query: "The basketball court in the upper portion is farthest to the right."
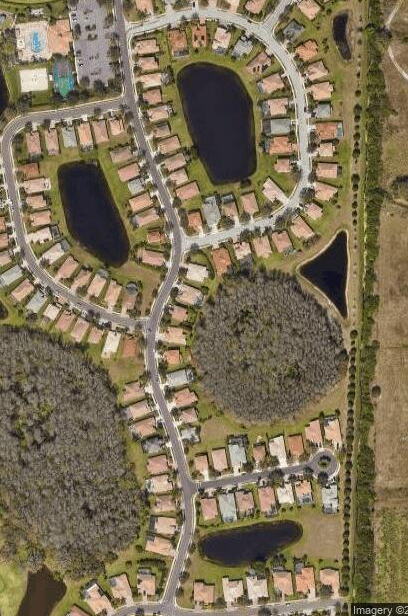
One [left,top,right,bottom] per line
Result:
[54,61,74,95]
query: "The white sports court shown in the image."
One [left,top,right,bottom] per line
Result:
[20,69,49,93]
